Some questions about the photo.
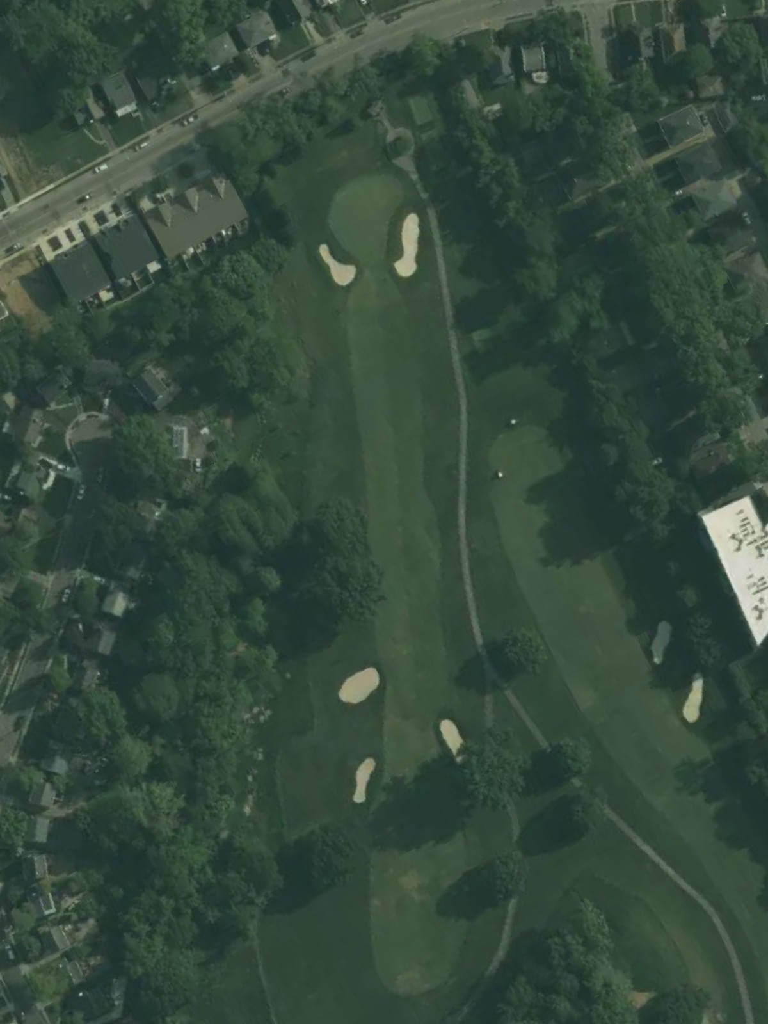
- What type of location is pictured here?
golf course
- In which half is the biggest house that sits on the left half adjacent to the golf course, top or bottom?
top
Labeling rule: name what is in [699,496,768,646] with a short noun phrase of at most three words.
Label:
building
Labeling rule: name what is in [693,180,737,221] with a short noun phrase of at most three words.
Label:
house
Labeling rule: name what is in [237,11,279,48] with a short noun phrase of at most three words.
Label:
house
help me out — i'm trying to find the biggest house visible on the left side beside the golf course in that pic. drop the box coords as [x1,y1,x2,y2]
[145,176,247,259]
